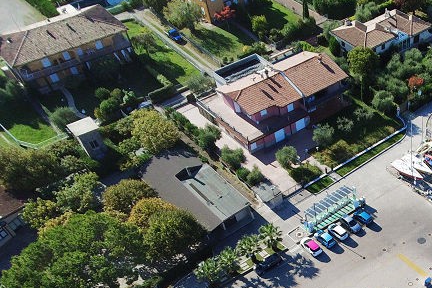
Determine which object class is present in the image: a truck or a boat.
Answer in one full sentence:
There is a boat in the scene.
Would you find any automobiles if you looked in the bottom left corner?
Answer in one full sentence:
No, I can find no automobile in the bottom left corner.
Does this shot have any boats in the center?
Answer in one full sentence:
No, no boat can be made out in the center.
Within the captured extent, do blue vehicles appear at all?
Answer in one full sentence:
Yes, I can see a blue vehicle in this picture.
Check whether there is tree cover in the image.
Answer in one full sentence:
Yes, some tree cover is visible.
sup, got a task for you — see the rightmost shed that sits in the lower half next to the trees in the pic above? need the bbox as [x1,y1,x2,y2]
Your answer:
[251,181,285,215]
